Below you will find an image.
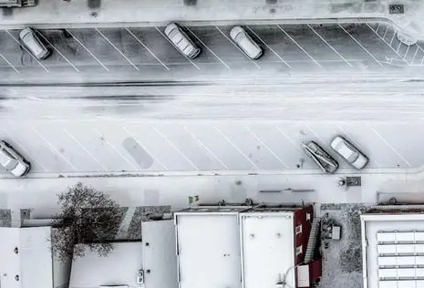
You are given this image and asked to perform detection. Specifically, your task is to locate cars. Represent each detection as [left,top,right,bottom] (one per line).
[0,138,32,176]
[308,141,340,175]
[331,135,368,170]
[164,20,203,60]
[20,25,53,61]
[230,22,265,60]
